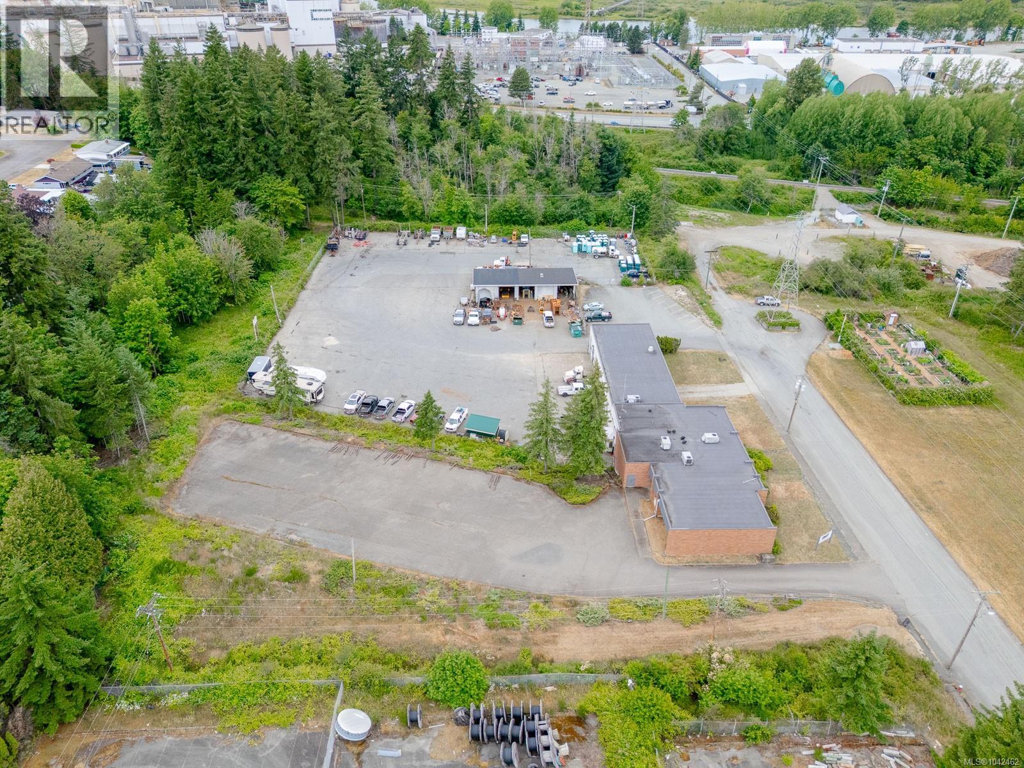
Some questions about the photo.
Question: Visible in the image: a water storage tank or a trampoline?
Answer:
water storage tank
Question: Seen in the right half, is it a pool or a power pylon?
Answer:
power pylon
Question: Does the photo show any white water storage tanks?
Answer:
Yes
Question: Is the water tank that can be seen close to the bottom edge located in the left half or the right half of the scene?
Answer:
left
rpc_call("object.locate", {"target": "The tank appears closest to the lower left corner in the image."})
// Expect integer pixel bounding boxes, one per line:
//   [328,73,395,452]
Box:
[334,714,371,752]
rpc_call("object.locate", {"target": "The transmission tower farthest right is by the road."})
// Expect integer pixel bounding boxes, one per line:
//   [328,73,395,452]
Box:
[761,208,818,326]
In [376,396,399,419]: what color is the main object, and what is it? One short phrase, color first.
gray truck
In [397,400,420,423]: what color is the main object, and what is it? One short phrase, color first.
white truck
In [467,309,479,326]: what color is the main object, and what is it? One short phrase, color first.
white vehicle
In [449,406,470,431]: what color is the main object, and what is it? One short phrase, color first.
white truck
